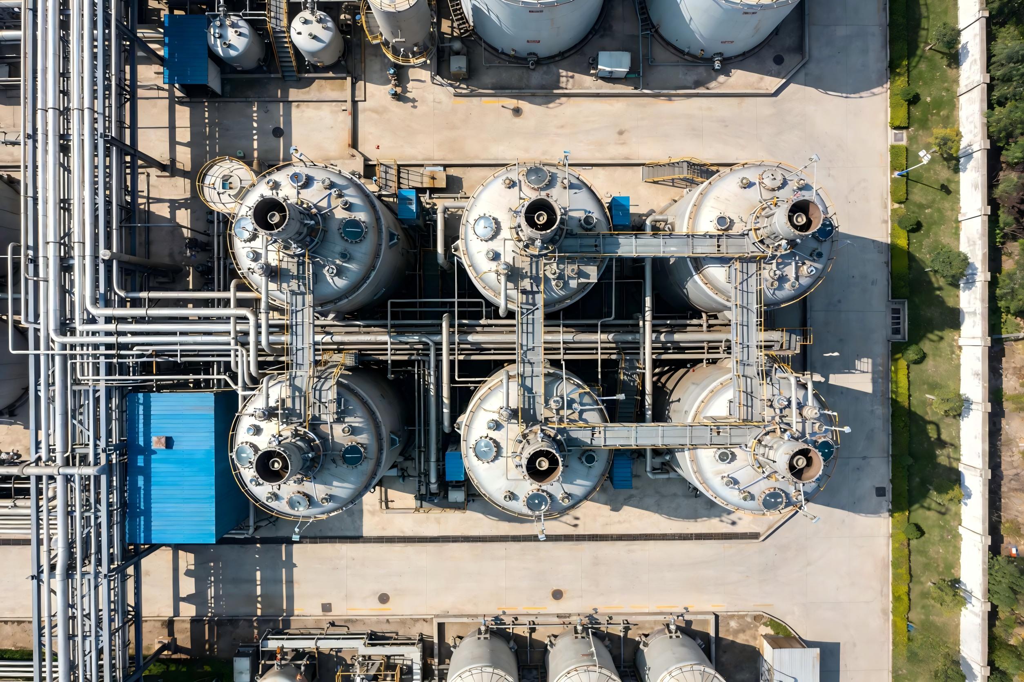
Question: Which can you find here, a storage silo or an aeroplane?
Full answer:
I can see a storage silo in this picture.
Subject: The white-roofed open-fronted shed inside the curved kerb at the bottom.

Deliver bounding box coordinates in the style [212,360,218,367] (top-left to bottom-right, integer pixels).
[760,633,820,682]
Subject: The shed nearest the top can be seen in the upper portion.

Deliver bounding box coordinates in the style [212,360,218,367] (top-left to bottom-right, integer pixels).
[164,14,221,95]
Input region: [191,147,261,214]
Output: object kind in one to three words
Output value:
silo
